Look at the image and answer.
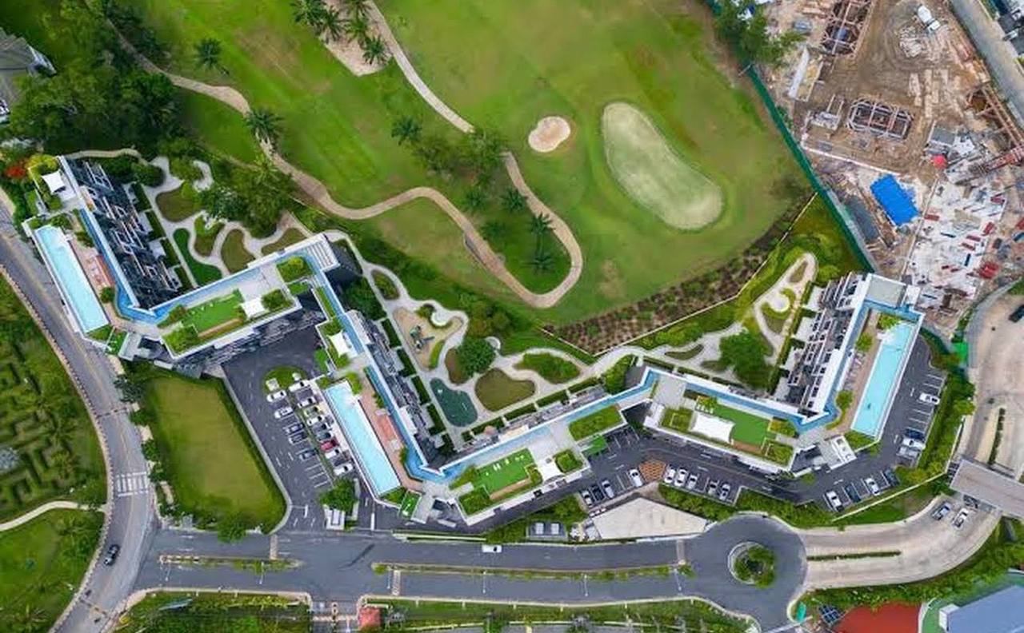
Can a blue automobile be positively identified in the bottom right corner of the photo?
Yes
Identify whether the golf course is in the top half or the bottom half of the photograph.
top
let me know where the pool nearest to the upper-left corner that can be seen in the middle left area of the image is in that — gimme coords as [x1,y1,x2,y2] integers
[31,221,113,334]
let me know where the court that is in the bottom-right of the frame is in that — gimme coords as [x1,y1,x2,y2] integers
[830,589,979,633]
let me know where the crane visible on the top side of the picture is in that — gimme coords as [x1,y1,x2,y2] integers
[958,142,1024,184]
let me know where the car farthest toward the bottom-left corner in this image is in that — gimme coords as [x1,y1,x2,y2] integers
[102,543,120,566]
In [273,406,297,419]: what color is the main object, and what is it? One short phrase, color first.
white vehicle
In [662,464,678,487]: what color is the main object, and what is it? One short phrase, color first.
white car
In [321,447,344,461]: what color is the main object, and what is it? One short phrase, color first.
white car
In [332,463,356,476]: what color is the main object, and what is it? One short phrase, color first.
white vehicle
